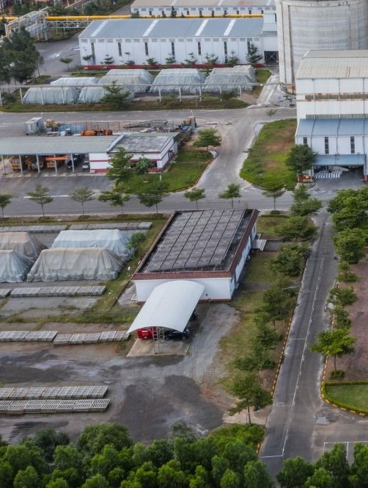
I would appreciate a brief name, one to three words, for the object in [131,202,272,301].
building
